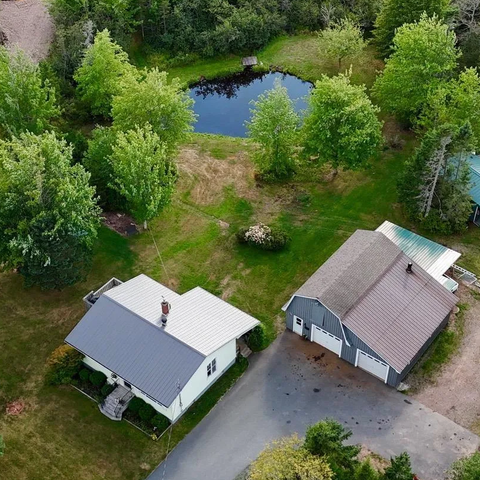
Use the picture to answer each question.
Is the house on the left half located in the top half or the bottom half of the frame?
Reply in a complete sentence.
The bottom half of the photo is where the house on the left half is.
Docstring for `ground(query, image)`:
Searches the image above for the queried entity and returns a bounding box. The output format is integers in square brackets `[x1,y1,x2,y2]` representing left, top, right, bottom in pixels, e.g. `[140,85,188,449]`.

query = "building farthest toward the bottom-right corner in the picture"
[281,231,458,387]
